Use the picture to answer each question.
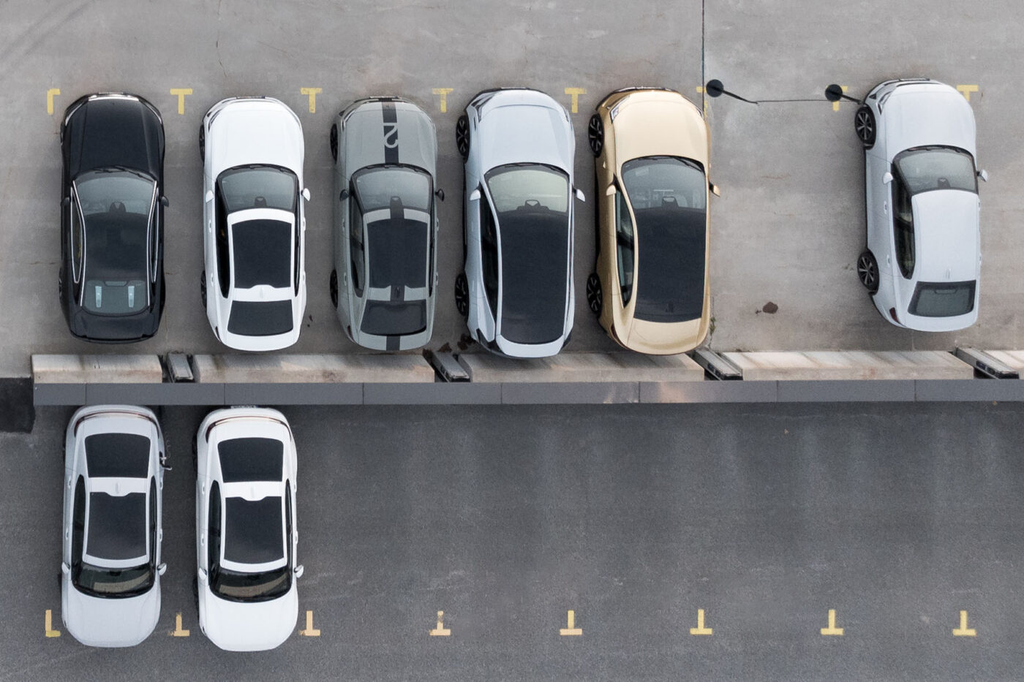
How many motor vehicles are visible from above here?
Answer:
8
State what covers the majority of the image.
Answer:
paved ground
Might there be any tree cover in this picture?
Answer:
No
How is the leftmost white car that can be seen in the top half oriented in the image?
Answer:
up and down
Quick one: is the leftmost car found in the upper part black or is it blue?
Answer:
black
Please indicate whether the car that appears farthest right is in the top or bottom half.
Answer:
top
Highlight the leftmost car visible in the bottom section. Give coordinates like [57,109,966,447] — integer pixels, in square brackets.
[59,403,171,648]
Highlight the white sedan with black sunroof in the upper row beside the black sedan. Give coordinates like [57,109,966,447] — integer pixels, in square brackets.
[198,95,313,351]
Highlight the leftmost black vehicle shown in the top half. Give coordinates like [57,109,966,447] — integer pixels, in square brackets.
[59,92,170,344]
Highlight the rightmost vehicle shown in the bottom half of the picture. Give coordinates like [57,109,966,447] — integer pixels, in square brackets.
[191,404,305,652]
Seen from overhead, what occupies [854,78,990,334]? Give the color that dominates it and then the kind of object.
white car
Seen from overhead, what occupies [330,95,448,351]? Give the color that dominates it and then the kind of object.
gray car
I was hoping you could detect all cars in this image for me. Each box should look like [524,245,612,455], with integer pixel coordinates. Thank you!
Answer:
[456,87,584,356]
[330,95,448,351]
[587,86,720,354]
[59,403,171,648]
[191,404,305,652]
[59,92,170,344]
[198,95,313,351]
[854,78,990,334]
